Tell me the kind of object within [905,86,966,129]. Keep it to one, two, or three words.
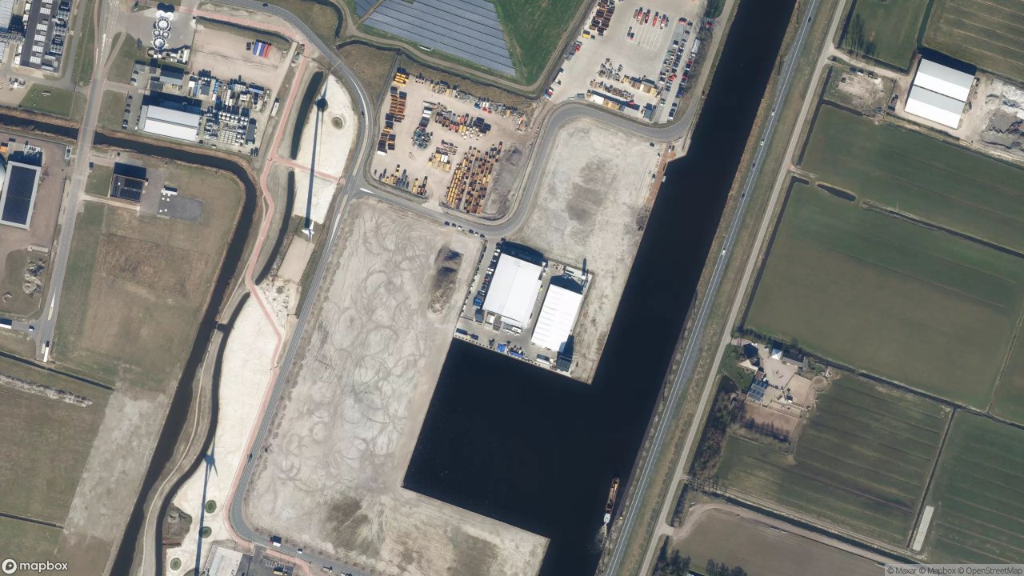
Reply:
barn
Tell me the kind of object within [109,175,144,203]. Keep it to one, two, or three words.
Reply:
shed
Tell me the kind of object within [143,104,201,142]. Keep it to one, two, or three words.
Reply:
building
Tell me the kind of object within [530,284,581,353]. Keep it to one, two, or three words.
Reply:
building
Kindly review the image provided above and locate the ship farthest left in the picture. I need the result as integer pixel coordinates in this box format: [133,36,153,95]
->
[603,478,618,525]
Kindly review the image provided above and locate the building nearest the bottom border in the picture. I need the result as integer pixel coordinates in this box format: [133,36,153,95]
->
[203,546,242,576]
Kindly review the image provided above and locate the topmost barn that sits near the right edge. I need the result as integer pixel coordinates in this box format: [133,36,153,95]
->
[914,58,975,102]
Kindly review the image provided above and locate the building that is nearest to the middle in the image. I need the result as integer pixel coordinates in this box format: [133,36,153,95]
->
[483,253,543,323]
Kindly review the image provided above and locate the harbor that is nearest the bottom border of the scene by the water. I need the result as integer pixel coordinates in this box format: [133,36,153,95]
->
[401,337,593,541]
